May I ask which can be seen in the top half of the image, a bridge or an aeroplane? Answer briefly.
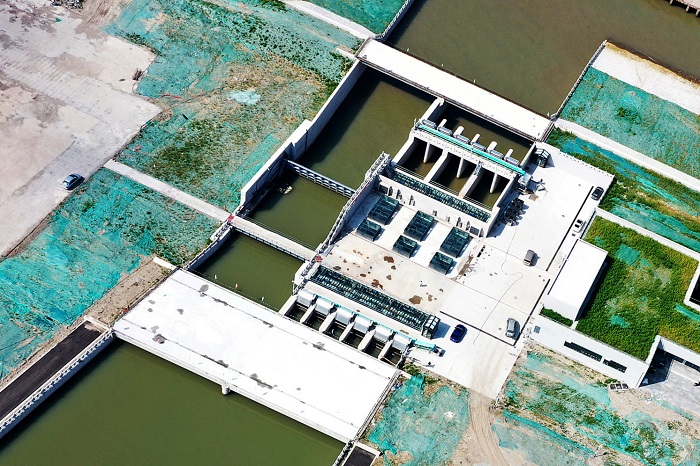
bridge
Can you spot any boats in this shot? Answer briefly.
No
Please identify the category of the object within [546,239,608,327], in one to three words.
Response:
building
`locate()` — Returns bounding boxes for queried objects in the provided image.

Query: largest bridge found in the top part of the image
[358,36,553,145]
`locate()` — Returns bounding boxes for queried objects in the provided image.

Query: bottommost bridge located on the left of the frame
[114,269,399,444]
